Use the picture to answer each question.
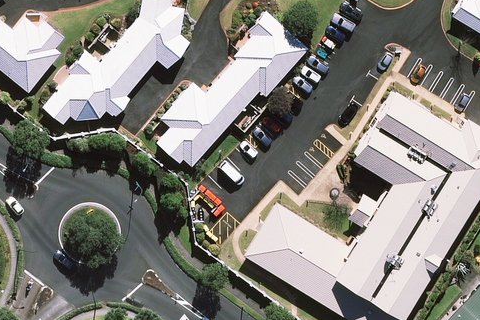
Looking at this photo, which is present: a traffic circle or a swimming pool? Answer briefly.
traffic circle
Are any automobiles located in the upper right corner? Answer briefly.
Yes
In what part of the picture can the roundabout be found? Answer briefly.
bottom left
